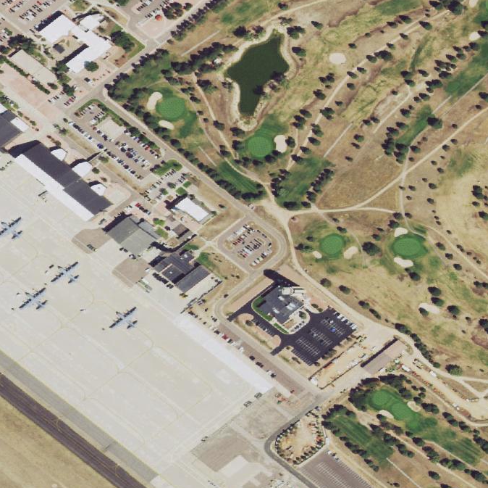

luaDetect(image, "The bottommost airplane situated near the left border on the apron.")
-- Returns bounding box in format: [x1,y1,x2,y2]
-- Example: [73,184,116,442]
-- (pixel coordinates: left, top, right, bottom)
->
[20,289,50,311]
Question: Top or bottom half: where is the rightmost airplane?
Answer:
bottom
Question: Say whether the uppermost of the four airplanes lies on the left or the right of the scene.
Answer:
left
